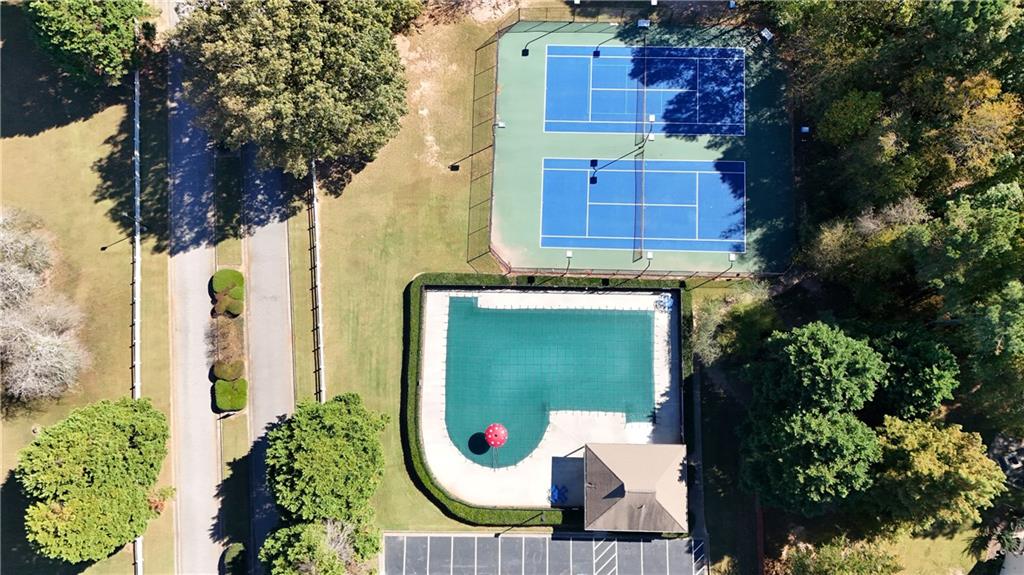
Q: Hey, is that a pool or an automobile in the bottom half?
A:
pool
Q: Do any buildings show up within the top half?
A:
No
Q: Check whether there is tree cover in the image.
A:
Yes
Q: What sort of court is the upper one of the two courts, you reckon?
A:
tennis court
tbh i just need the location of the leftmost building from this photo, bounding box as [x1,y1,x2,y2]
[585,442,690,533]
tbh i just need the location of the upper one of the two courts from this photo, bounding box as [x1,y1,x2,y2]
[544,34,745,142]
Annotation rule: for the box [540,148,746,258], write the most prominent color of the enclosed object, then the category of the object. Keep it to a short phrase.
blue tennis court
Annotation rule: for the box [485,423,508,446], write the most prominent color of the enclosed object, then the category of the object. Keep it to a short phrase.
red fountain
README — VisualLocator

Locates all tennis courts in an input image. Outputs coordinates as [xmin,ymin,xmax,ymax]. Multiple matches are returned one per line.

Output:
[540,148,746,258]
[544,34,745,142]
